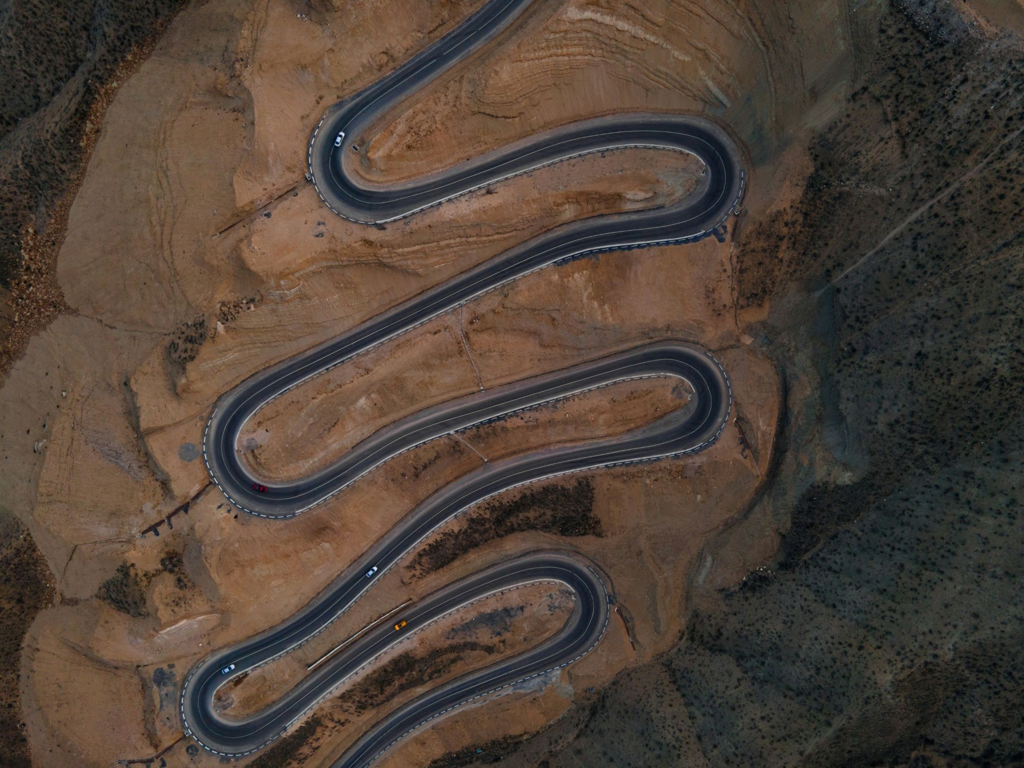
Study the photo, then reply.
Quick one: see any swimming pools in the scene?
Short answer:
No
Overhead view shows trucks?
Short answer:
No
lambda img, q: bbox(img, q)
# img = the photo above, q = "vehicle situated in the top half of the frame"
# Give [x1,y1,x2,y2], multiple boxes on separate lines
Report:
[334,131,346,147]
